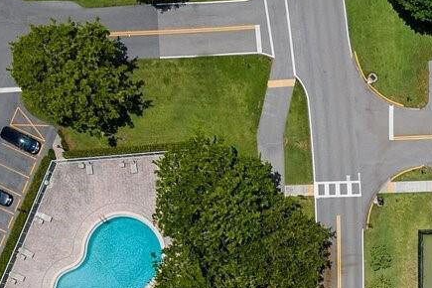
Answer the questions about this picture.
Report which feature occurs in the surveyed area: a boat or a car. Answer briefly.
car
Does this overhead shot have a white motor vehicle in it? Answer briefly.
No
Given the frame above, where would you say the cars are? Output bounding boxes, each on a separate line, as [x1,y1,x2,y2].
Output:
[1,127,42,154]
[0,189,15,206]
